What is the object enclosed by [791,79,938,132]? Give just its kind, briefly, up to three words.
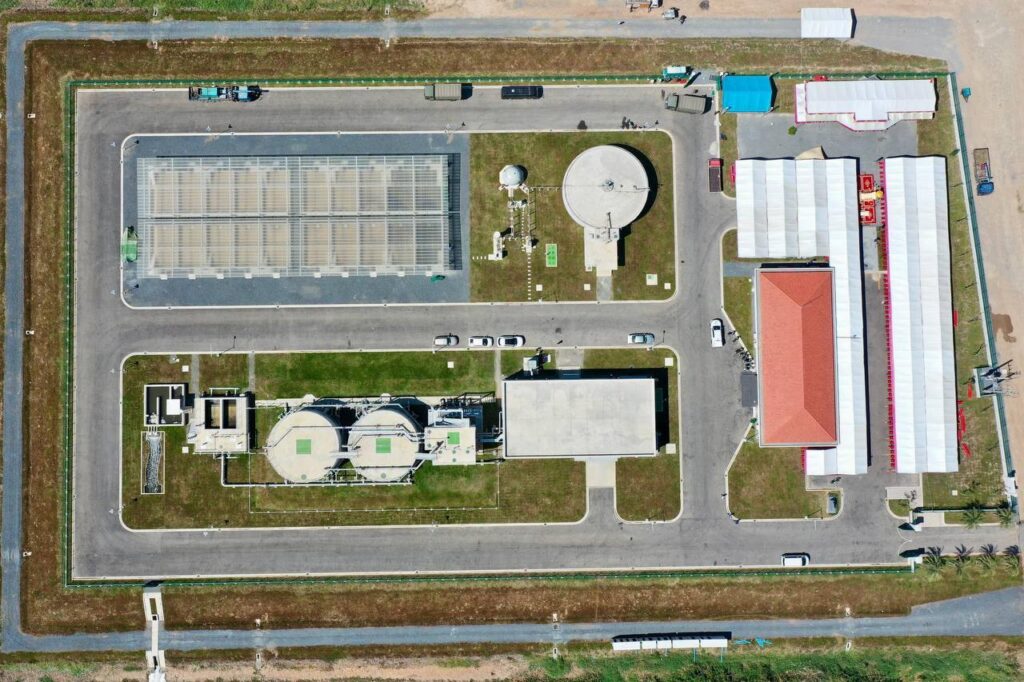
tent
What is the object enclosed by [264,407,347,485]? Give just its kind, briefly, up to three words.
storage tank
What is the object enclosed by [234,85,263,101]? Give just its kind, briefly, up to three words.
work vehicle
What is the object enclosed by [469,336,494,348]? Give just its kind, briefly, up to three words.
vehicle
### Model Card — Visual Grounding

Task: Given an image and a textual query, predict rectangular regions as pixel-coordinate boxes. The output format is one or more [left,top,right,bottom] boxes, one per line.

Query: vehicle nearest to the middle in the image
[498,336,524,348]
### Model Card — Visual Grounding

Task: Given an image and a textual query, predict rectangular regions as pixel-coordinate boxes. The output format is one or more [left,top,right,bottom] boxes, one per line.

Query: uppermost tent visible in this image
[795,8,852,45]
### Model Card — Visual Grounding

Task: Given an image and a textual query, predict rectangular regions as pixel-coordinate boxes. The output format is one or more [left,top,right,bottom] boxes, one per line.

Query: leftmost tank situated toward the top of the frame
[499,165,531,199]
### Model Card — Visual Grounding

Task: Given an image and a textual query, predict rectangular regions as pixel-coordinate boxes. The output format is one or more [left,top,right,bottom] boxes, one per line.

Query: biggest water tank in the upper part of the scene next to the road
[562,144,651,277]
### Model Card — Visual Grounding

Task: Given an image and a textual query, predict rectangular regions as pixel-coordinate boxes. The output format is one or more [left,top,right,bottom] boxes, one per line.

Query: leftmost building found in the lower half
[425,392,503,465]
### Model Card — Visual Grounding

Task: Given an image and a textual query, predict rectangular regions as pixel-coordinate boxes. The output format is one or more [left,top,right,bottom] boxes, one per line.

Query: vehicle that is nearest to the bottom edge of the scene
[779,554,808,567]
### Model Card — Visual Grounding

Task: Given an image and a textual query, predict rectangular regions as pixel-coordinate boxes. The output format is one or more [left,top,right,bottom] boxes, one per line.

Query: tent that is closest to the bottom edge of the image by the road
[799,447,837,476]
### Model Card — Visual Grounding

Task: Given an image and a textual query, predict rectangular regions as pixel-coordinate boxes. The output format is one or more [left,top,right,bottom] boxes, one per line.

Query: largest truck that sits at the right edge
[972,149,993,193]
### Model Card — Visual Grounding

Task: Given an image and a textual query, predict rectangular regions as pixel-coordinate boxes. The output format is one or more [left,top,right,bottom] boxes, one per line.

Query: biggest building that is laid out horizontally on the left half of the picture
[136,154,449,279]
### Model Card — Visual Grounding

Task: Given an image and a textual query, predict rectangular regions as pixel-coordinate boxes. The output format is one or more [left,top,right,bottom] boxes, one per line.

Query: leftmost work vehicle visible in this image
[122,227,139,260]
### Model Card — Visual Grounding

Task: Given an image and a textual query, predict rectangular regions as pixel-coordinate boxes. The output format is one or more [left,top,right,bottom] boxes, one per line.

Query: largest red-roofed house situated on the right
[737,266,840,448]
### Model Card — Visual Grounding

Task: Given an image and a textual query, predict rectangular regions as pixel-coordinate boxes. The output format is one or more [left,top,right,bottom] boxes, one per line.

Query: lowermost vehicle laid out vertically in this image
[709,319,722,347]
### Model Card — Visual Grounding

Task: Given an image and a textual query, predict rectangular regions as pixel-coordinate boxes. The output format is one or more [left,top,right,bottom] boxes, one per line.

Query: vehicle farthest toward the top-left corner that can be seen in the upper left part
[187,84,229,101]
